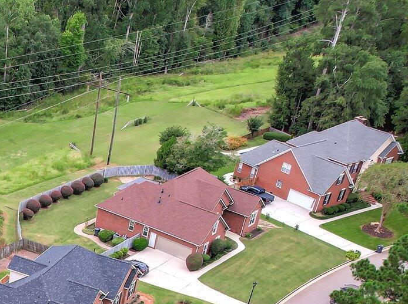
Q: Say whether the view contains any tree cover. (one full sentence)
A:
Yes, some tree cover is visible.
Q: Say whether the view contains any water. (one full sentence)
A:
No, the picture contains no water.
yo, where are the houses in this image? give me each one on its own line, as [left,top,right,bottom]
[0,245,148,304]
[236,115,408,211]
[93,163,266,258]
